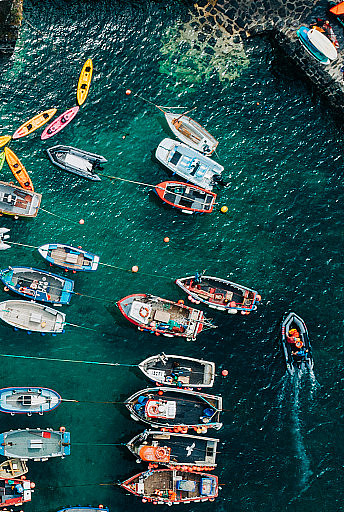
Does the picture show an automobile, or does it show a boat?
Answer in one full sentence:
Of the two, only a boat appears.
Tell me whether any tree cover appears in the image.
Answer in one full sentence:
No, no tree cover is visible.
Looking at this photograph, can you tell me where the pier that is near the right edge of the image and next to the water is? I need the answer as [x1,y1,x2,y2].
[249,0,344,124]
